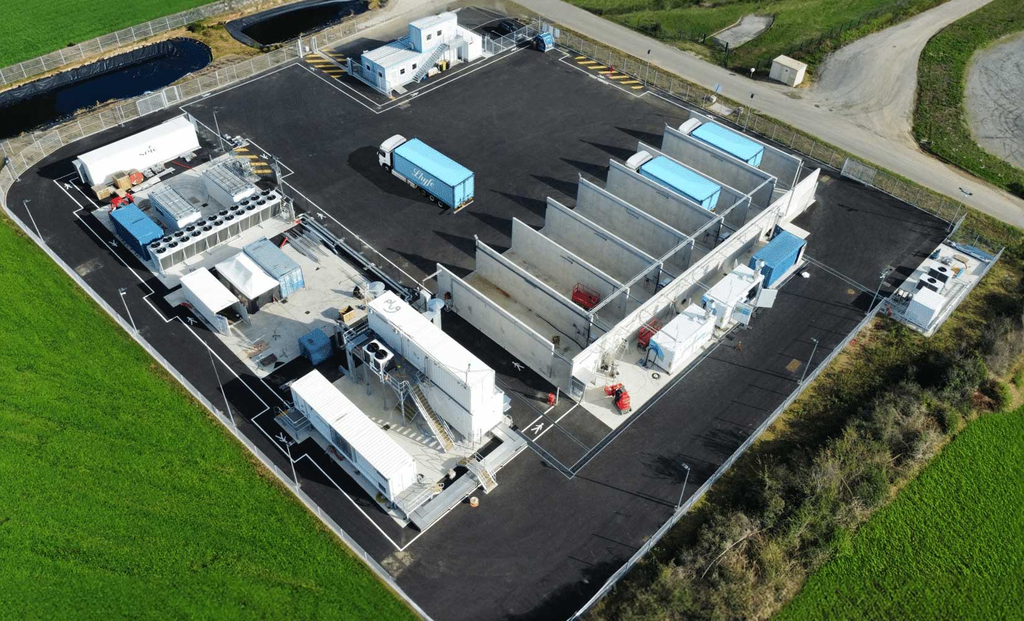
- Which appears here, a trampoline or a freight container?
freight container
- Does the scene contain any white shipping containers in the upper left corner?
Yes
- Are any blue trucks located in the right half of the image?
Yes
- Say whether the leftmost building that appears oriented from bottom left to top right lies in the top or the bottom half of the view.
top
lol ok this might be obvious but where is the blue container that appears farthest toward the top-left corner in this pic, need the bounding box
[111,205,166,264]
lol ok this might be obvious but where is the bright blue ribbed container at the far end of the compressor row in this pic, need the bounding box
[749,230,813,287]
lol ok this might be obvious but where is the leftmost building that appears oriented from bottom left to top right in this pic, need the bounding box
[360,10,460,93]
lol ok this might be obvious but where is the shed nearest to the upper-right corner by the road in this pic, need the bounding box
[772,53,813,86]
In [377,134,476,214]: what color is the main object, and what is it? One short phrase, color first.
blue truck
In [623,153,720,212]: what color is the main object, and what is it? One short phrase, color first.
blue truck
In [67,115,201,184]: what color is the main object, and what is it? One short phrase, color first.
white shipping container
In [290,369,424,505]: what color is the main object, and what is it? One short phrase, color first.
white shipping container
